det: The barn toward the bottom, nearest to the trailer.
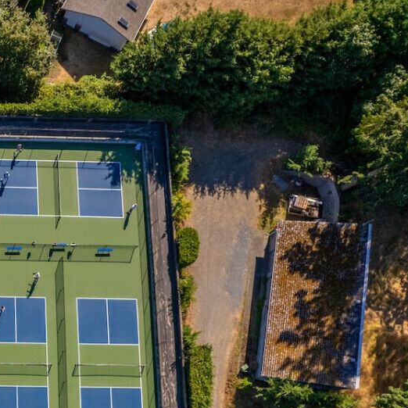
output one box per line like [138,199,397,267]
[250,222,369,388]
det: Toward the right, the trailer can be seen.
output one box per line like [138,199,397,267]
[277,195,321,220]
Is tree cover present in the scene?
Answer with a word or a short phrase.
Yes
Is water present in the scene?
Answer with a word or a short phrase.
No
